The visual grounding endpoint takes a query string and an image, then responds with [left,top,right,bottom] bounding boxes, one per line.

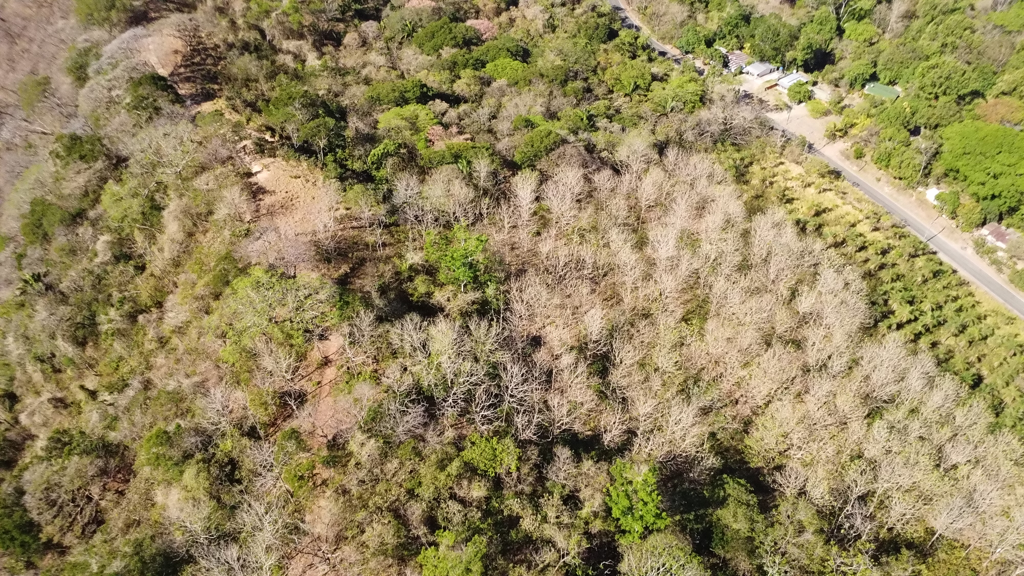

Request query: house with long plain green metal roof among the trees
[865,84,900,104]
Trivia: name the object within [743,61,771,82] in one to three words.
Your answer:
house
